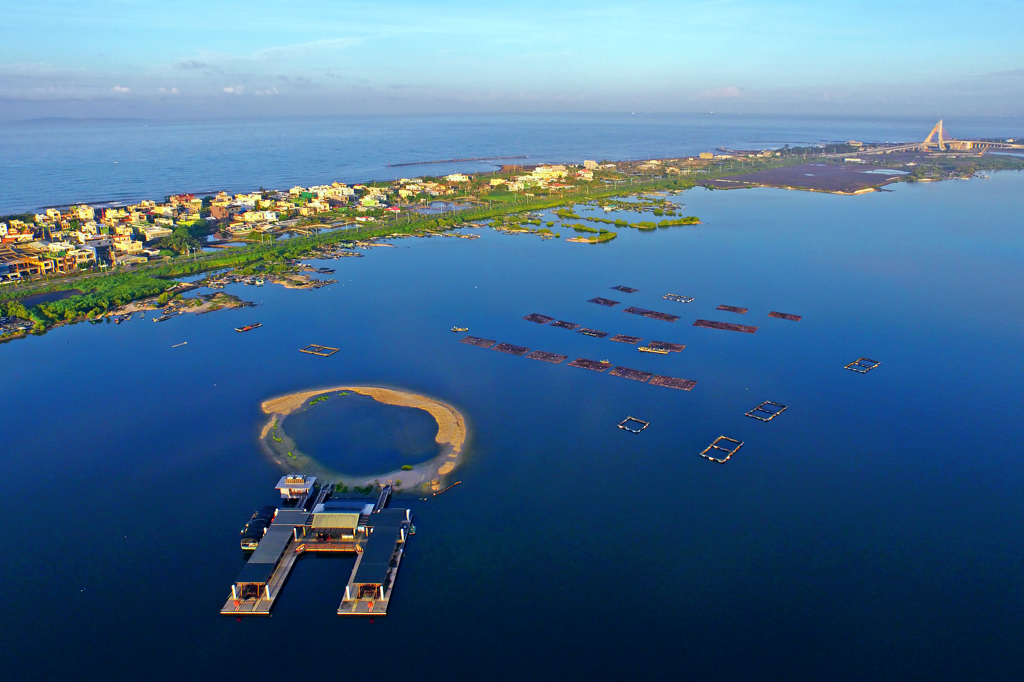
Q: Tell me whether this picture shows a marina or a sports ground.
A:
marina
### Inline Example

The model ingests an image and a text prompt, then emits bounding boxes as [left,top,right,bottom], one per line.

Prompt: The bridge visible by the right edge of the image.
[822,120,1024,157]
